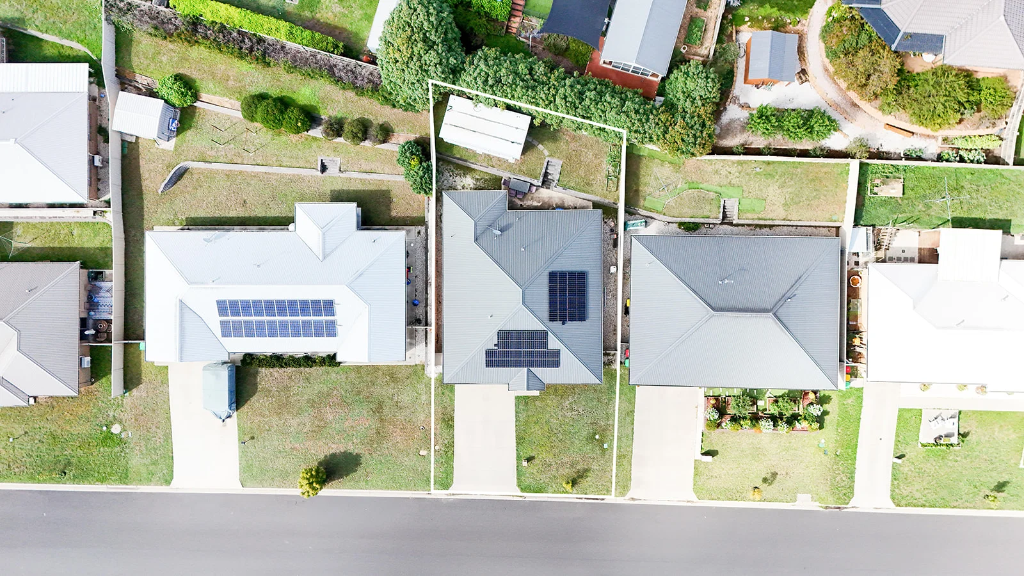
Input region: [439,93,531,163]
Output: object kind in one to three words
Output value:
shed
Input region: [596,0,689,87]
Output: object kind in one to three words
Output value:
shed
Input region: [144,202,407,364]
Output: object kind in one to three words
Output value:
house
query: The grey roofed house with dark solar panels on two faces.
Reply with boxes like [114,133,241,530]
[442,190,603,391]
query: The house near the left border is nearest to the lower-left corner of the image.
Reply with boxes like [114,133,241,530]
[0,260,89,407]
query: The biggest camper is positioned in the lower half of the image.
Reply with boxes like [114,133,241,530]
[202,363,237,420]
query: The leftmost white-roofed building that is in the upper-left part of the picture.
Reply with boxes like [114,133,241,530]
[0,61,98,204]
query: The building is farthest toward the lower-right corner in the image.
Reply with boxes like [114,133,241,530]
[858,228,1024,394]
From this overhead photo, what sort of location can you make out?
residential area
